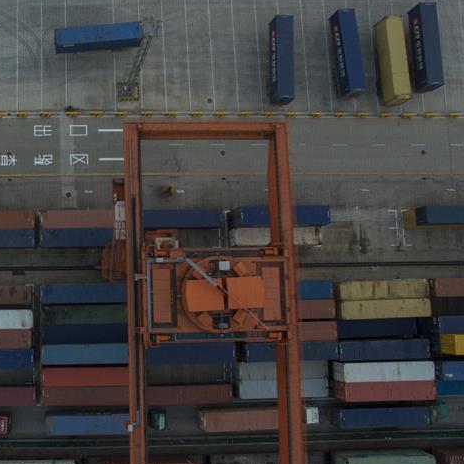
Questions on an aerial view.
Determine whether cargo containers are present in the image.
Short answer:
Yes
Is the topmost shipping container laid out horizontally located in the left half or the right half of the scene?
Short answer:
left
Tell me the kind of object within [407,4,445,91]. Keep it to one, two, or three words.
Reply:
shipping container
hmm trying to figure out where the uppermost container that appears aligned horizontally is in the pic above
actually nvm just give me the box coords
[54,24,141,53]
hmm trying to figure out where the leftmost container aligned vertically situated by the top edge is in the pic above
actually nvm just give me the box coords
[269,18,295,104]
